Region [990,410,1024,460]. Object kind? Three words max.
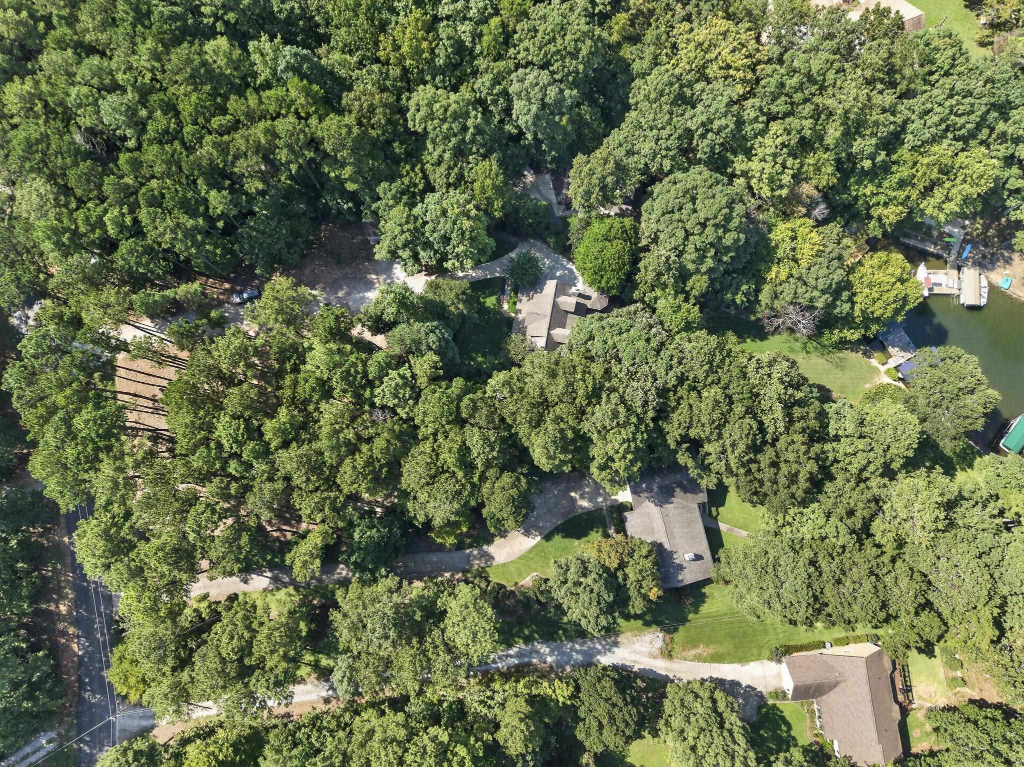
building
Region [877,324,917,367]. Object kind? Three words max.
pier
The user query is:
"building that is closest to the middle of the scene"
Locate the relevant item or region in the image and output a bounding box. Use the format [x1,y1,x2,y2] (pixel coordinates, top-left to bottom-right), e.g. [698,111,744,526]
[509,280,609,355]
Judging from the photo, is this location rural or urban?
rural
